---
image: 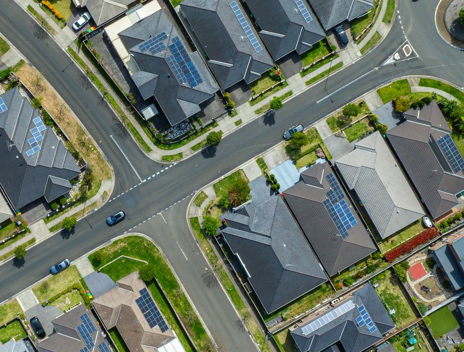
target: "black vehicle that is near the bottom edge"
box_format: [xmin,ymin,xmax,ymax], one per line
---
[29,317,45,338]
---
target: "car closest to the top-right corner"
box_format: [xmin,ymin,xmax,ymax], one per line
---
[333,24,348,45]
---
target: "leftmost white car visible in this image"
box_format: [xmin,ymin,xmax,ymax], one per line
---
[71,12,91,29]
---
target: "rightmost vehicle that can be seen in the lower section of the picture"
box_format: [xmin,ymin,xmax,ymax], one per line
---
[105,210,127,226]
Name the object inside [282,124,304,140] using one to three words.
car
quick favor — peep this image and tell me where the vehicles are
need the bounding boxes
[282,124,304,140]
[29,317,45,338]
[105,210,127,226]
[50,258,71,273]
[71,12,91,29]
[333,24,348,45]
